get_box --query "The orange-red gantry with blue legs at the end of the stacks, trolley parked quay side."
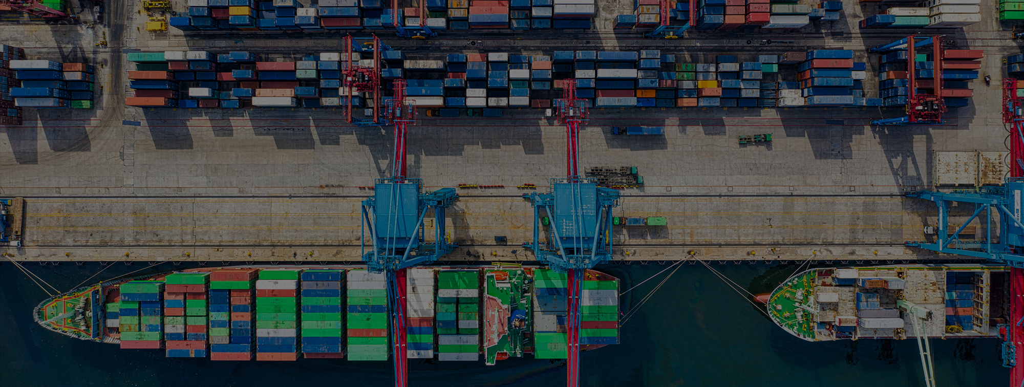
[867,30,944,128]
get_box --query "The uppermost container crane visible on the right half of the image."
[641,0,698,40]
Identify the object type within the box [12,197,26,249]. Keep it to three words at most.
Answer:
vehicle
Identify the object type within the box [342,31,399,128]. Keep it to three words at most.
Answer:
container crane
